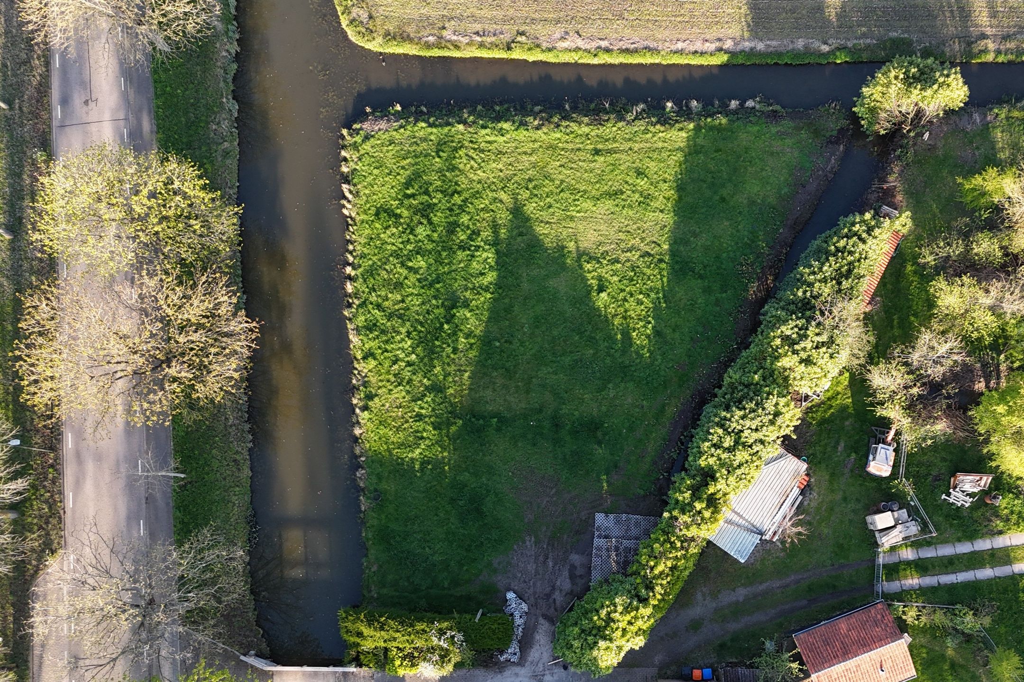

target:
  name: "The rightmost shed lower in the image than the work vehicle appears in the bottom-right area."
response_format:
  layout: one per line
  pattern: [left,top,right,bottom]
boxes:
[778,596,913,682]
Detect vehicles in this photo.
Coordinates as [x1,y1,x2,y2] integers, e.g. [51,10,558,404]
[862,425,905,477]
